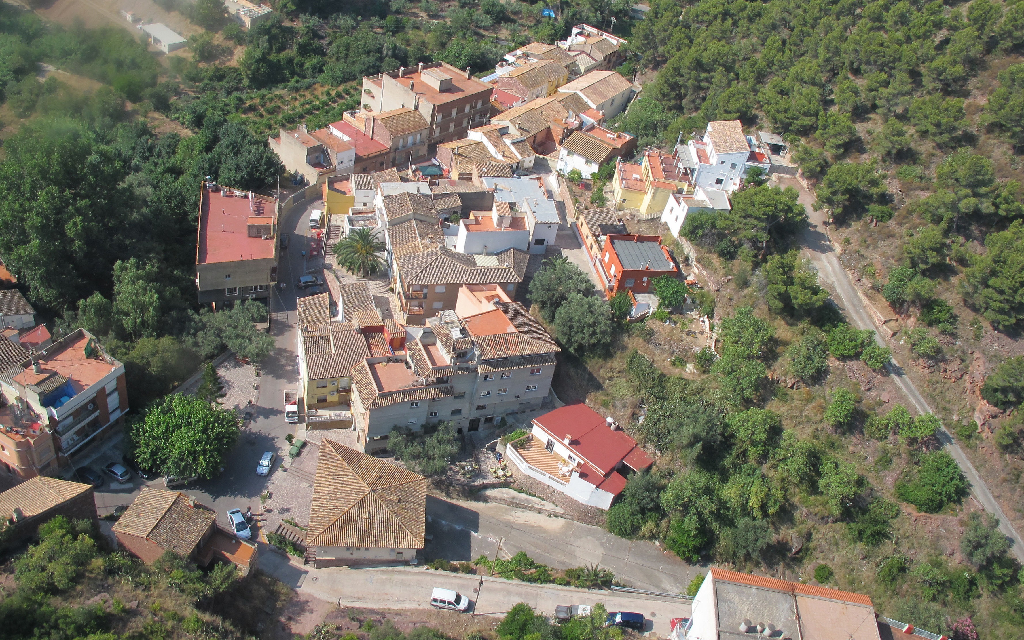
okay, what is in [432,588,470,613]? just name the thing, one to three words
vehicle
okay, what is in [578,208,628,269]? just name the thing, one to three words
house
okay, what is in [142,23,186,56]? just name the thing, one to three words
shed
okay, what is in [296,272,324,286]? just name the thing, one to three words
car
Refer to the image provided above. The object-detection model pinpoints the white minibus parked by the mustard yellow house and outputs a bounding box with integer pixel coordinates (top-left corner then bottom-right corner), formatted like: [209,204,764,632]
[309,205,325,226]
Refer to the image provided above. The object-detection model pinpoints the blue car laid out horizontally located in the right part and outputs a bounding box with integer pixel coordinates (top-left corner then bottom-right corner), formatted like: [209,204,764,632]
[607,609,647,630]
